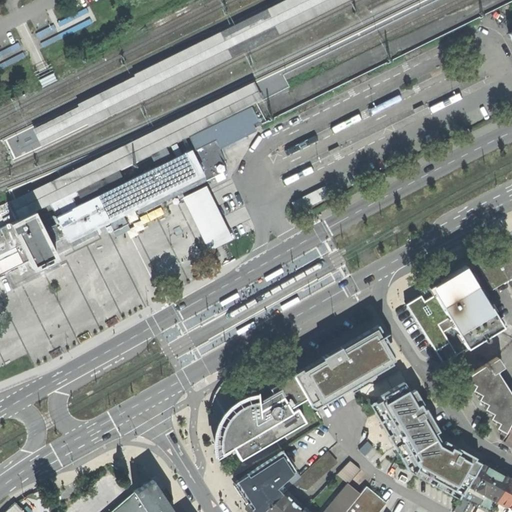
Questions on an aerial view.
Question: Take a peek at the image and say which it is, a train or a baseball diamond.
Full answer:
The image shows a train.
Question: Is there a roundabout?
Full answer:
No, there appears to be no roundabout in this shot.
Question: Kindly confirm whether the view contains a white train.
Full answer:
Yes, you can see a white train in this photo.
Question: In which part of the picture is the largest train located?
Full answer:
Look in the center portion of the view to spot the largest train.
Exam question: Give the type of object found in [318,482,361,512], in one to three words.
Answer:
house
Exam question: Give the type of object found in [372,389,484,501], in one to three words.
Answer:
building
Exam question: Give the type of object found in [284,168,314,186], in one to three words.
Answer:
vehicle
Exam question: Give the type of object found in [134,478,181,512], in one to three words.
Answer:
building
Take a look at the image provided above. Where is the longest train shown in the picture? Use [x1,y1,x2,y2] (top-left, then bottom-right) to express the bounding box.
[231,266,322,316]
